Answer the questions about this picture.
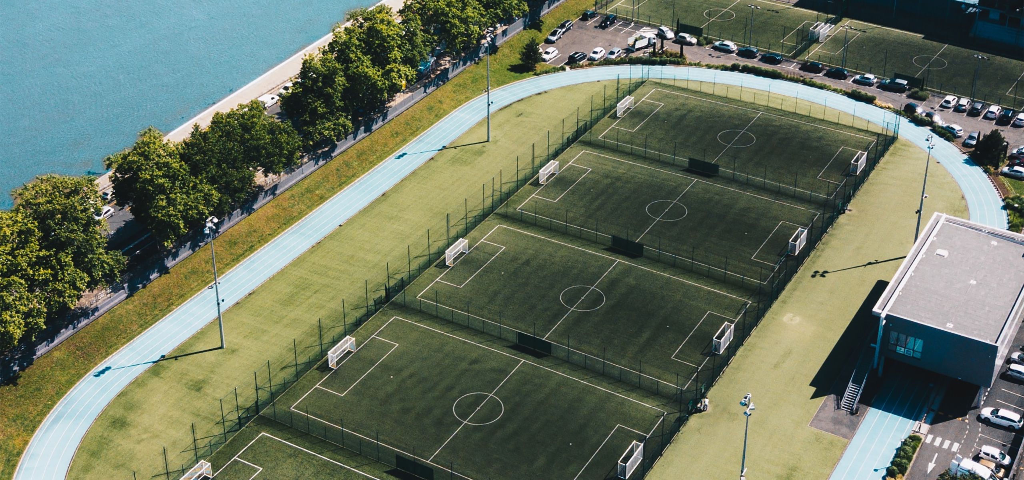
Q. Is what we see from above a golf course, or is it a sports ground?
sports ground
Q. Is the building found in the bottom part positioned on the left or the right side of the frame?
right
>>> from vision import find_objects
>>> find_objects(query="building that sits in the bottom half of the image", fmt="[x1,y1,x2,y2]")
[831,211,1024,413]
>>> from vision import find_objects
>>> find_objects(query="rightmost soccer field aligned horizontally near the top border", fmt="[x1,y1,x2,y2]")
[789,15,1024,116]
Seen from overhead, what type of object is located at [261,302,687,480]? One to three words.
soccer field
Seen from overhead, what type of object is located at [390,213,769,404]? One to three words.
soccer field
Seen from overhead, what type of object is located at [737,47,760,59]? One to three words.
vehicle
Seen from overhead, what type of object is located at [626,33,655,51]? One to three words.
vehicle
